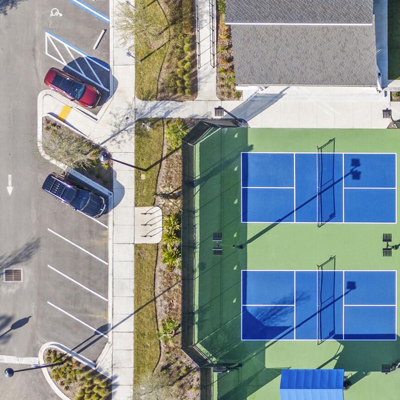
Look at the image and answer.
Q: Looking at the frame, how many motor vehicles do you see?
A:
2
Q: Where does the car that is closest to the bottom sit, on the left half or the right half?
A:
left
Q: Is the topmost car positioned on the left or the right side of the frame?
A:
left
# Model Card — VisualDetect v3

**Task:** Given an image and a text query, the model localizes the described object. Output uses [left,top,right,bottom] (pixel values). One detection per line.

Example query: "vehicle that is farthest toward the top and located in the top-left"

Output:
[42,66,103,110]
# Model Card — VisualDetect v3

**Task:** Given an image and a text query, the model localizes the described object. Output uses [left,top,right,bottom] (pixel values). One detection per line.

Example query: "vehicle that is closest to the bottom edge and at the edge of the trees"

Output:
[39,173,108,219]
